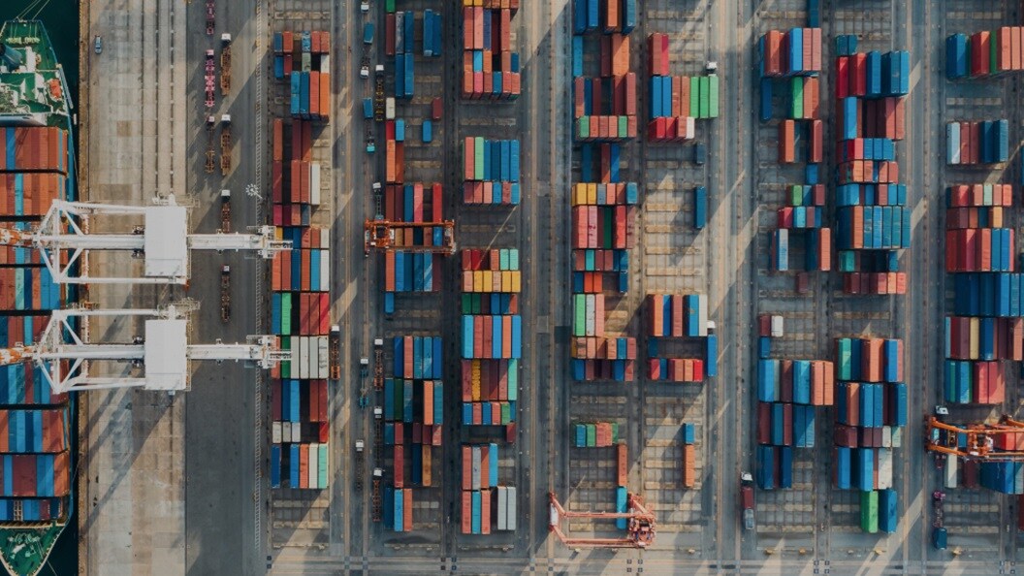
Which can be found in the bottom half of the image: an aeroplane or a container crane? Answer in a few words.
container crane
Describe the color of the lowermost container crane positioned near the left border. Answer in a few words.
white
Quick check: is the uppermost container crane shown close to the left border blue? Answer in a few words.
No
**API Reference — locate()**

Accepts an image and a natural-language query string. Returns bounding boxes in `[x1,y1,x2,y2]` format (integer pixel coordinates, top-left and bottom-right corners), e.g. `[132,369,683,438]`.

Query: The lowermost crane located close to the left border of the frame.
[0,294,293,396]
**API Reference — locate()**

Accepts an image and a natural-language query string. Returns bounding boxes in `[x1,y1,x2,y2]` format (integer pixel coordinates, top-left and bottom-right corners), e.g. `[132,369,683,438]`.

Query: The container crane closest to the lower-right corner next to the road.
[928,412,1024,460]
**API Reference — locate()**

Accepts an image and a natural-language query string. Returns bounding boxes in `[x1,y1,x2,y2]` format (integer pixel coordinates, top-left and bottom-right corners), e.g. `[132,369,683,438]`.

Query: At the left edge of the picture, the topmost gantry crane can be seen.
[0,185,293,293]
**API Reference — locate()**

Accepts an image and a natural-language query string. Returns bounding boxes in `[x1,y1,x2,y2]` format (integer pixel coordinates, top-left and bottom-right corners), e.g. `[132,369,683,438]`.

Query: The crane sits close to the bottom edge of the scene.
[550,489,655,548]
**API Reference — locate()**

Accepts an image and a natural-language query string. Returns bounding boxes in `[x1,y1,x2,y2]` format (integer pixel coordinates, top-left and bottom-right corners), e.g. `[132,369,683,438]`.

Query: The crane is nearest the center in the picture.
[364,219,456,257]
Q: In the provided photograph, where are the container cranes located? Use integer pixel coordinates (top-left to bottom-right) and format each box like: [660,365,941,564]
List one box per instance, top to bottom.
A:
[0,185,293,293]
[364,219,456,257]
[0,294,293,396]
[928,412,1024,460]
[550,489,655,548]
